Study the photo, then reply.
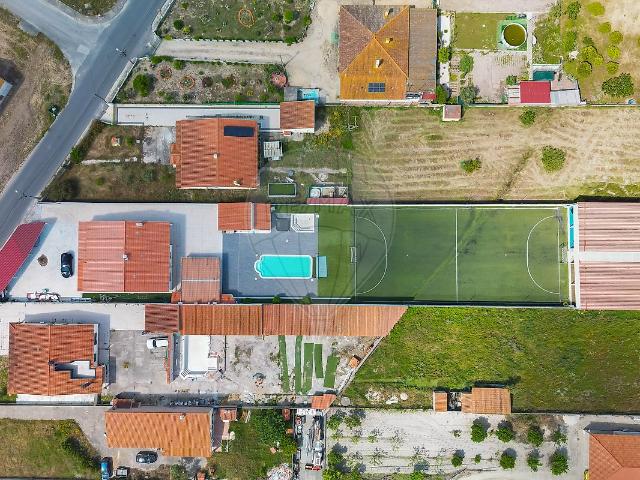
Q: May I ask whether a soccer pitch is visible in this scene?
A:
Yes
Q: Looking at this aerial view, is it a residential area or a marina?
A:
residential area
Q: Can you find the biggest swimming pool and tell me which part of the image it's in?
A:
center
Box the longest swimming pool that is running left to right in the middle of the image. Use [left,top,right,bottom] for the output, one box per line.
[255,255,312,278]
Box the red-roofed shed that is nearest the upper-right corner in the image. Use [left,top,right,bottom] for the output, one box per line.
[518,81,550,104]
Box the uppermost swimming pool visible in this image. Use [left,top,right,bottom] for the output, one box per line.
[532,65,562,81]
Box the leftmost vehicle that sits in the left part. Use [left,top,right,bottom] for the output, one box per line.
[59,252,75,278]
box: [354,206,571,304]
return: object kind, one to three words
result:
soccer field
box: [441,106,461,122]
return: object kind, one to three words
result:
shed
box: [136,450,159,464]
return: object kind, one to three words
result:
car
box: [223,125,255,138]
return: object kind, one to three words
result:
solar panel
